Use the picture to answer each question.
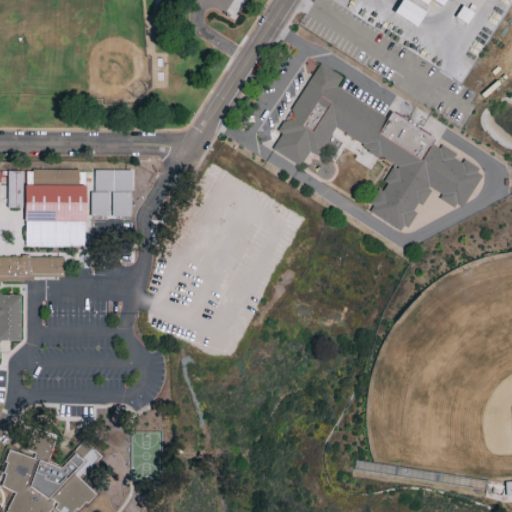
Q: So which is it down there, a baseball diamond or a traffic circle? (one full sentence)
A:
The one in the frame is a baseball diamond.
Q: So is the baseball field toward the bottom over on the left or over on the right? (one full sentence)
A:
The baseball field toward the bottom is on the right side of the image.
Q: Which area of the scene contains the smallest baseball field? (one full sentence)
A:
You can find the smallest baseball field in the top left area of the picture.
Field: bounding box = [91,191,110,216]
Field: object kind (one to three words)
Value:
shed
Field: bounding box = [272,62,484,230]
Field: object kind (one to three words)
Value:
building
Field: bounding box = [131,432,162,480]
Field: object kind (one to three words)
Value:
basketball court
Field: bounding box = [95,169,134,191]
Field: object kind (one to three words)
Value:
shed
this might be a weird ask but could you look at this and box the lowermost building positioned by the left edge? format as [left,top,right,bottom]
[2,433,102,512]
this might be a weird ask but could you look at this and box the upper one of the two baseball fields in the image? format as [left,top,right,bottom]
[90,37,150,104]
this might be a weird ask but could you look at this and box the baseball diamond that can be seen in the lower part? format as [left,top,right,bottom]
[367,252,512,480]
